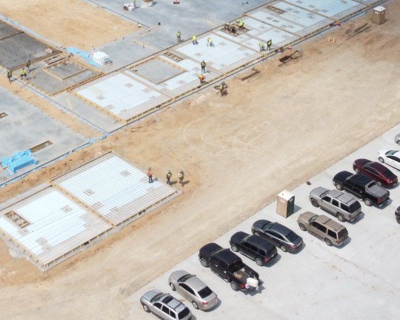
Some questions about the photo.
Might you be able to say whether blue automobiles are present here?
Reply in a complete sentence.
No, there isn't any blue automobile down there.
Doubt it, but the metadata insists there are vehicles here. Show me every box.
[196,242,266,292]
[347,156,400,187]
[372,146,400,168]
[247,215,305,253]
[293,209,352,247]
[164,266,222,310]
[305,186,365,223]
[138,286,195,320]
[225,229,284,268]
[331,169,394,207]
